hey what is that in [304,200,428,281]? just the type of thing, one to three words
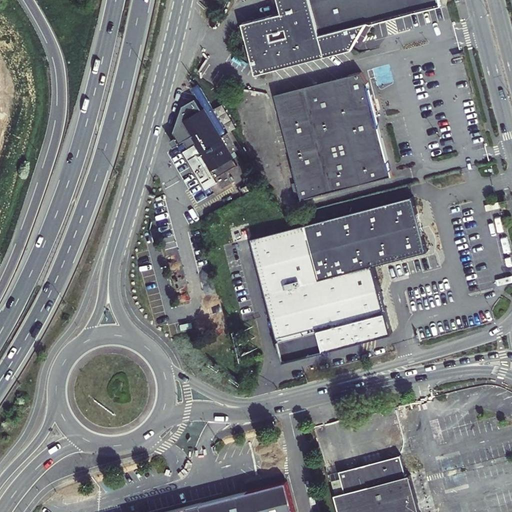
building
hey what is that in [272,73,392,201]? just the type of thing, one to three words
warehouse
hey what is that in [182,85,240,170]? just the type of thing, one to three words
building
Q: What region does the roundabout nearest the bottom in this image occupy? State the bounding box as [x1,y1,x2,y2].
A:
[50,330,172,450]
